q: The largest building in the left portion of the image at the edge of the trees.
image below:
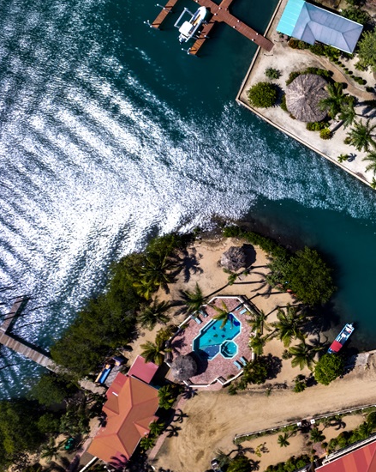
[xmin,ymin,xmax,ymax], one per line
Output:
[87,372,167,470]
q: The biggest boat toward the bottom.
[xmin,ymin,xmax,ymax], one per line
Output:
[327,322,357,354]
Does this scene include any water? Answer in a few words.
Yes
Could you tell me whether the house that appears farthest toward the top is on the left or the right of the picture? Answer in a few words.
right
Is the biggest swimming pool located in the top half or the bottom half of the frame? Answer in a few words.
bottom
